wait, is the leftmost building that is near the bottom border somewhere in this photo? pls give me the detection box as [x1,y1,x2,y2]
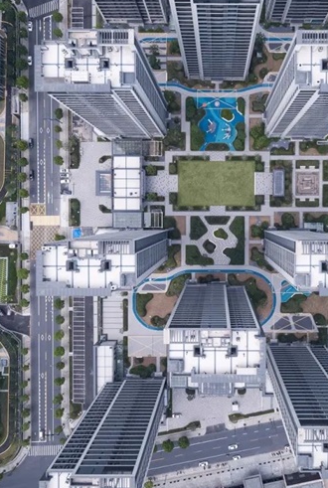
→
[36,369,168,488]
